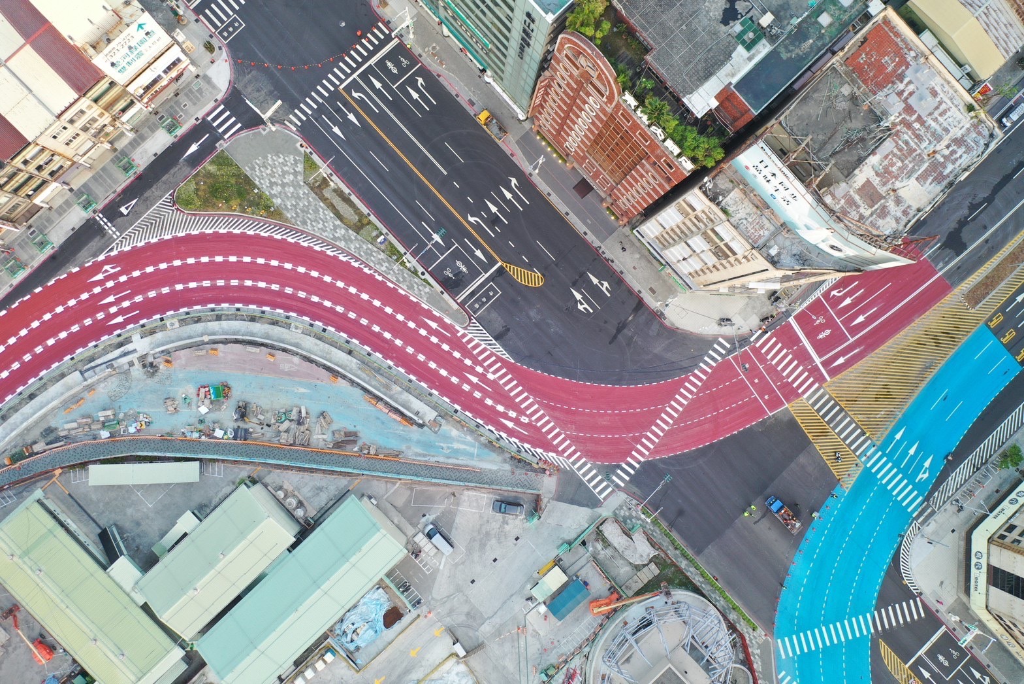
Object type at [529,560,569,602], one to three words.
building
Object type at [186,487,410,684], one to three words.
warehouse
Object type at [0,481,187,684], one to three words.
warehouse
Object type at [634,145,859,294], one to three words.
building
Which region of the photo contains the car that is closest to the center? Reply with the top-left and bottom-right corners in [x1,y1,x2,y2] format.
[494,501,526,516]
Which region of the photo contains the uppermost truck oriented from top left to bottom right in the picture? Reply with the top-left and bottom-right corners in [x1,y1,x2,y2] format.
[477,106,508,141]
